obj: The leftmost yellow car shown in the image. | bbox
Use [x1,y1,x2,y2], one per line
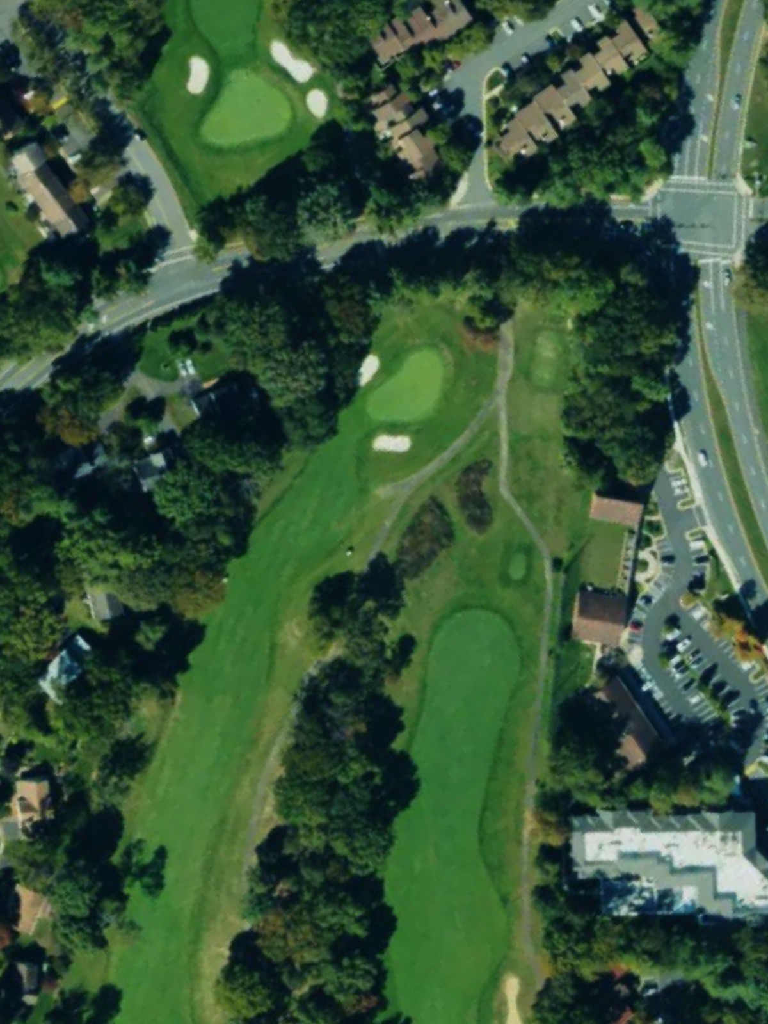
[51,97,67,109]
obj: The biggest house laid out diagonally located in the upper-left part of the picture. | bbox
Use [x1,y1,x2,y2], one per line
[11,141,88,238]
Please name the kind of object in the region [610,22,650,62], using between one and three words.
house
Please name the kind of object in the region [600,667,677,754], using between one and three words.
building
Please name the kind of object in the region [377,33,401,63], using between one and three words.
house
